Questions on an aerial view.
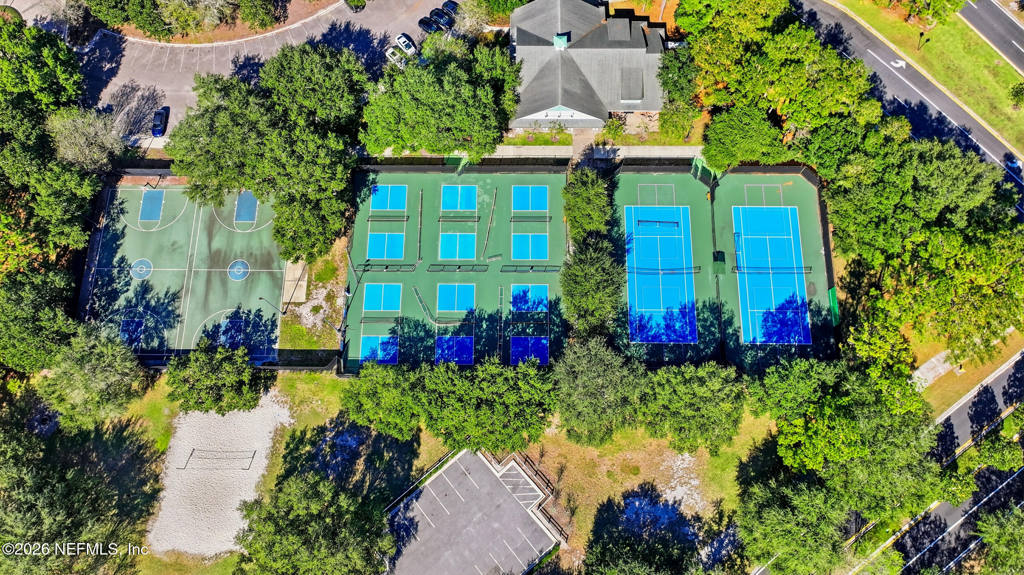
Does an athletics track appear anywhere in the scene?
No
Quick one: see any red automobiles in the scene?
No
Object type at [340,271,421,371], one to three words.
sports court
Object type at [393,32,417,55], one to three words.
car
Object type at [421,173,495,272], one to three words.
sports court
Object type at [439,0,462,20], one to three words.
car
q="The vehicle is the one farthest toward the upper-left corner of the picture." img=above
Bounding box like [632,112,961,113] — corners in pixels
[151,111,167,137]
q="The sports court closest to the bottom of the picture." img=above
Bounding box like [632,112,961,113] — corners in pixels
[144,388,296,559]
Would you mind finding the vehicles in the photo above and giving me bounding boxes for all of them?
[393,32,417,55]
[429,6,454,28]
[151,111,167,137]
[415,14,436,36]
[386,48,408,71]
[439,0,462,20]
